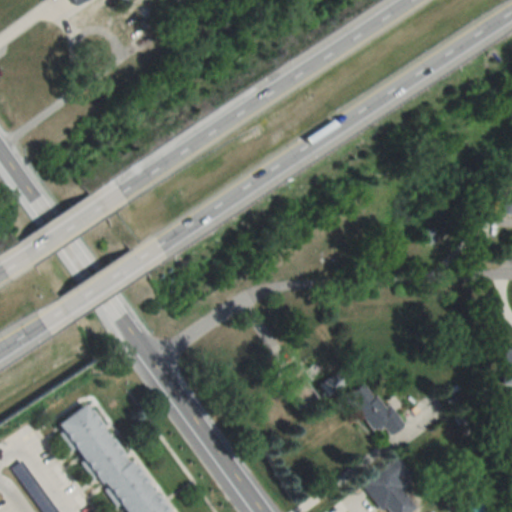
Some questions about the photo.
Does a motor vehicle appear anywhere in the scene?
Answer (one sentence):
Yes, the photo shows a motor vehicle.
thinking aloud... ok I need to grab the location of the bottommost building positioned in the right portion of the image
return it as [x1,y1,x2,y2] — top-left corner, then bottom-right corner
[364,460,420,512]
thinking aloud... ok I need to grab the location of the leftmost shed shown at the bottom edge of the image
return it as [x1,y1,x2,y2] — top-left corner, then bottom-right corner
[10,460,57,512]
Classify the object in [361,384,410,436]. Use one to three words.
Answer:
house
